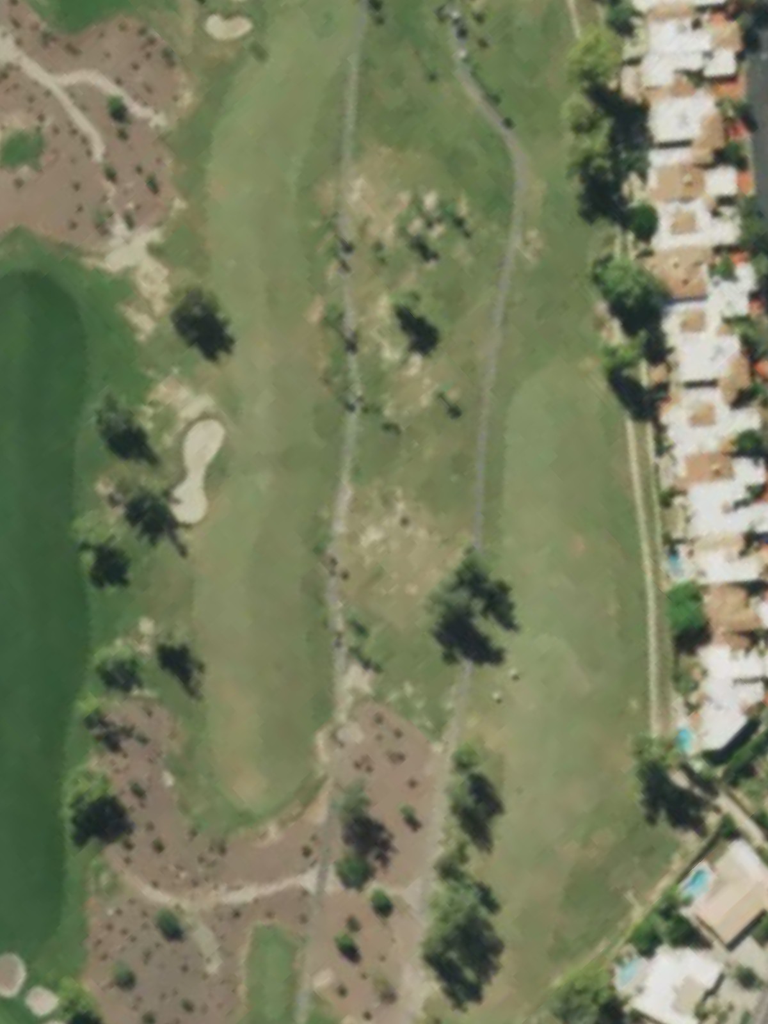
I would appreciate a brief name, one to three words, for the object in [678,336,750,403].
house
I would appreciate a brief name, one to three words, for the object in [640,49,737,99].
house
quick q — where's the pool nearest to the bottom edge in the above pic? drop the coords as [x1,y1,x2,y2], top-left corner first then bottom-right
[618,959,640,987]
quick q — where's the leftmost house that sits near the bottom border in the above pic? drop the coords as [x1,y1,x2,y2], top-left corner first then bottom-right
[628,949,723,1024]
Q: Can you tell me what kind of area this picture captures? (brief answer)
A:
golf course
